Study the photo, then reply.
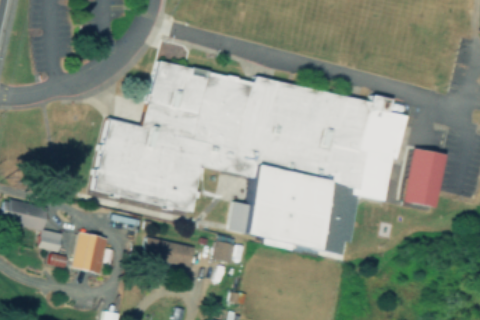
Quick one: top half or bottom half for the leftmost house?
bottom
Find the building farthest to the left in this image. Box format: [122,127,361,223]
[4,198,48,233]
